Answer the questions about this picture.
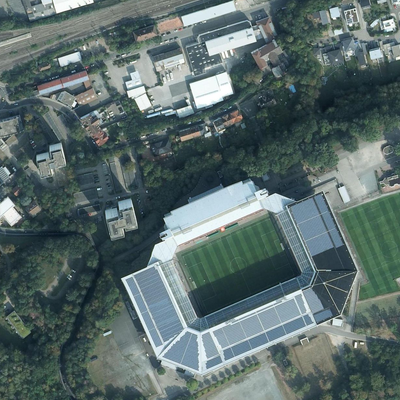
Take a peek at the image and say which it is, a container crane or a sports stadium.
sports stadium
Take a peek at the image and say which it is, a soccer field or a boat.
soccer field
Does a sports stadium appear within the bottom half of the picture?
Yes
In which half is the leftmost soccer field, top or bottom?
bottom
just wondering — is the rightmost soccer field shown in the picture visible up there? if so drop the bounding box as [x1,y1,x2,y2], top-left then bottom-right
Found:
[340,190,400,299]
